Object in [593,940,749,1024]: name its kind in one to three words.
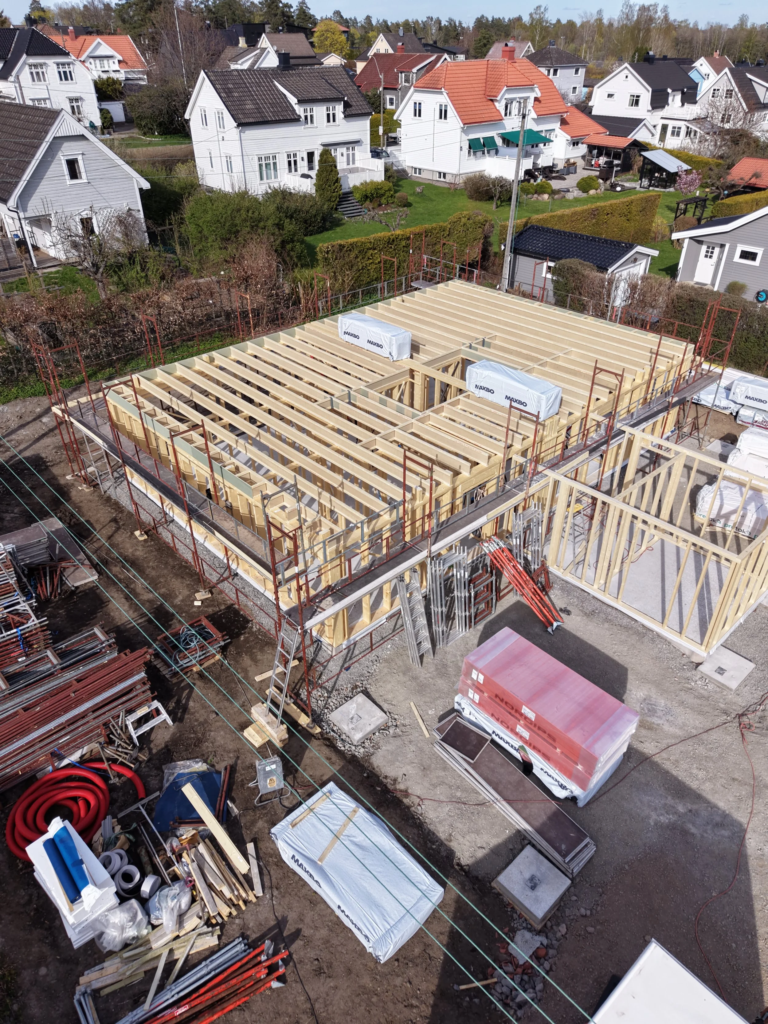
shed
